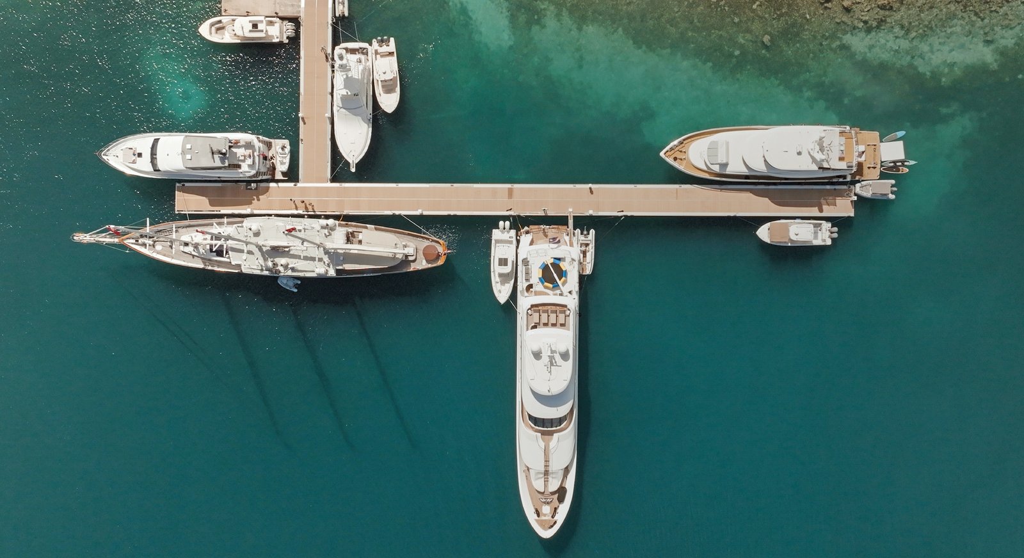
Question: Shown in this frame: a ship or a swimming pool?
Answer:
ship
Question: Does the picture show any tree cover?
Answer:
No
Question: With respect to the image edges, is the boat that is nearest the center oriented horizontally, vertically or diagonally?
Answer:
vertically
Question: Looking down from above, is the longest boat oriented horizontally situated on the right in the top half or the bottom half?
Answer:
top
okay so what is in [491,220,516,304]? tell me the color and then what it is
white boat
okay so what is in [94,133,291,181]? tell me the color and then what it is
white boat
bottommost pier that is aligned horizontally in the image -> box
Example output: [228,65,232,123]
[175,183,854,217]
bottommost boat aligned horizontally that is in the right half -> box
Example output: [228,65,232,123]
[755,220,838,246]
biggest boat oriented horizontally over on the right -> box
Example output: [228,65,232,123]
[660,124,881,183]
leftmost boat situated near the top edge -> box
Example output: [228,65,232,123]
[199,16,296,44]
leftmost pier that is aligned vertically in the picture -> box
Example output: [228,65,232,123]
[300,0,333,183]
